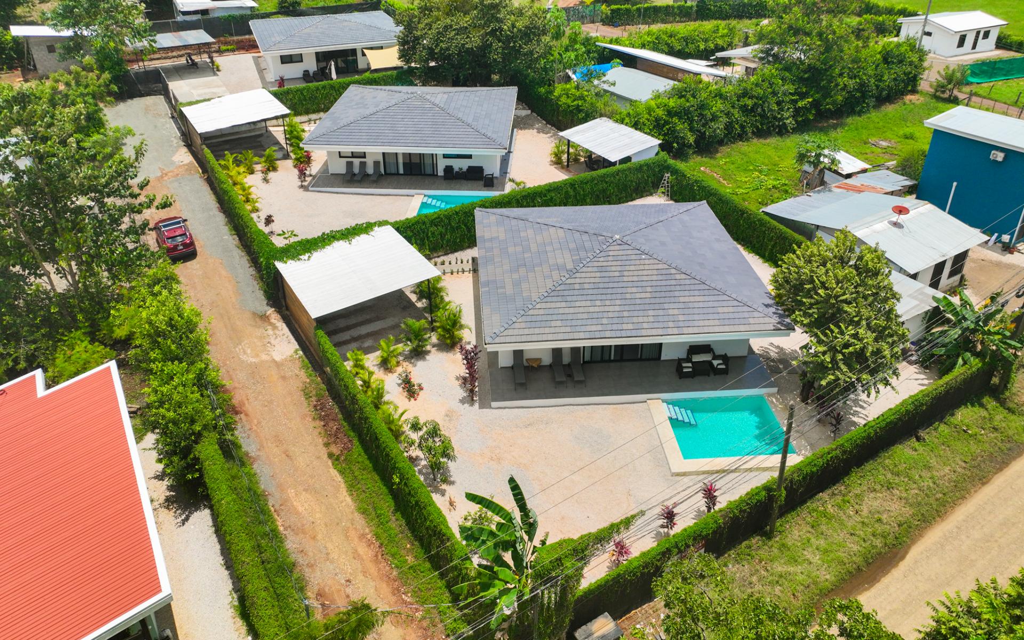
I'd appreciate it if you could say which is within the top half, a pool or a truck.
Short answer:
pool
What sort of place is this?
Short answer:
residential area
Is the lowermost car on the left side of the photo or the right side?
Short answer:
left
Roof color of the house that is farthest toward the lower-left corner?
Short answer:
red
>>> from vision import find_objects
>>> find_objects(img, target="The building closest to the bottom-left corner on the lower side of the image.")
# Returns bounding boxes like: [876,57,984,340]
[0,361,179,640]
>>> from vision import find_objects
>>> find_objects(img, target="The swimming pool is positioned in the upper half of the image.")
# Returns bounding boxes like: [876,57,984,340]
[404,193,488,227]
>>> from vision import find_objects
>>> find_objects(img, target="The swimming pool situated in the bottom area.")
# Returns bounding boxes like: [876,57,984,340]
[645,391,804,477]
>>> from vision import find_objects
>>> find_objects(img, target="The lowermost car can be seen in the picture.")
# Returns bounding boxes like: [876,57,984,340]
[146,213,193,255]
